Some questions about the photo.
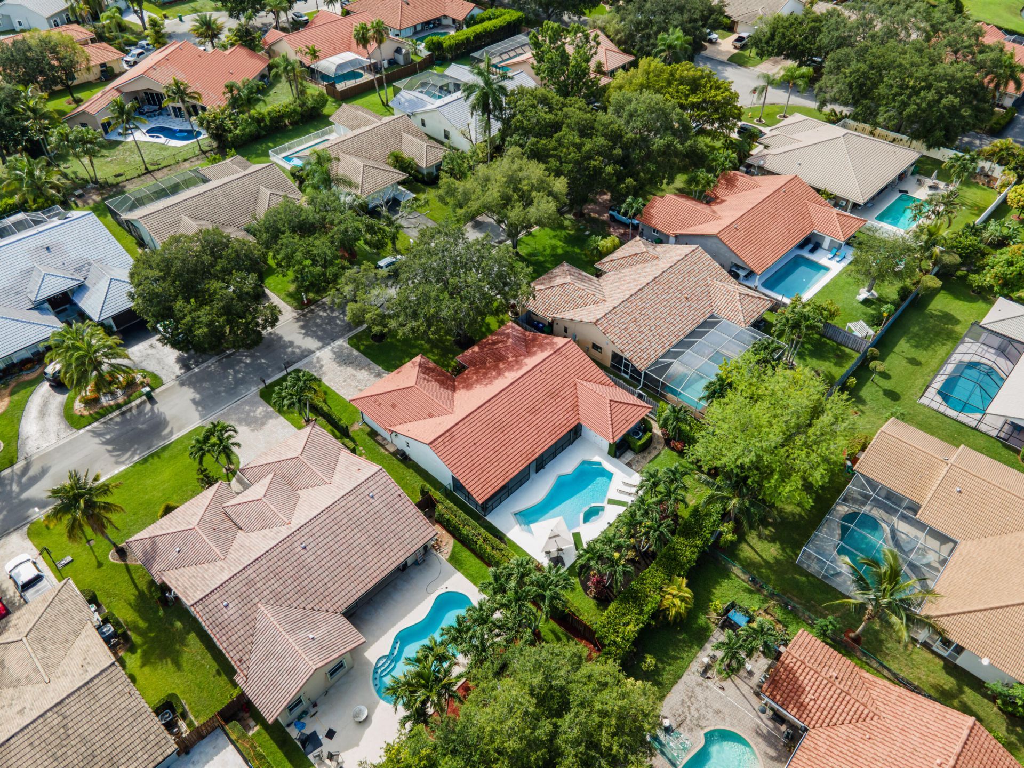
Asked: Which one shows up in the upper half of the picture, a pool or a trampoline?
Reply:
pool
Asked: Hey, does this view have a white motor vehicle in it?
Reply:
Yes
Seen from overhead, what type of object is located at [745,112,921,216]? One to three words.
house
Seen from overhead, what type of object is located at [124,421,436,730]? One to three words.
house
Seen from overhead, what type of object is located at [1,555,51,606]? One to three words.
truck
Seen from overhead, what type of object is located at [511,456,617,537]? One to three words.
swimming pool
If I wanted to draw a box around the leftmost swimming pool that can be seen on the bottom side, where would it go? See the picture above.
[369,587,472,711]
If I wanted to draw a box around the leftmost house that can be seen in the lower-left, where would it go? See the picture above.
[0,576,178,768]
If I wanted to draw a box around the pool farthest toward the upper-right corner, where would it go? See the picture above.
[872,192,928,230]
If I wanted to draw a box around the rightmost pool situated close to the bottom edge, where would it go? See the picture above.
[674,723,764,768]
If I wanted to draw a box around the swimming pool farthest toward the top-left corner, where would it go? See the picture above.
[144,125,203,140]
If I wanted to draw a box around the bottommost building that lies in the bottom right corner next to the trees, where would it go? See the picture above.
[758,628,1024,768]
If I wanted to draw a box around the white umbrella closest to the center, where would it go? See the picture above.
[530,517,573,572]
